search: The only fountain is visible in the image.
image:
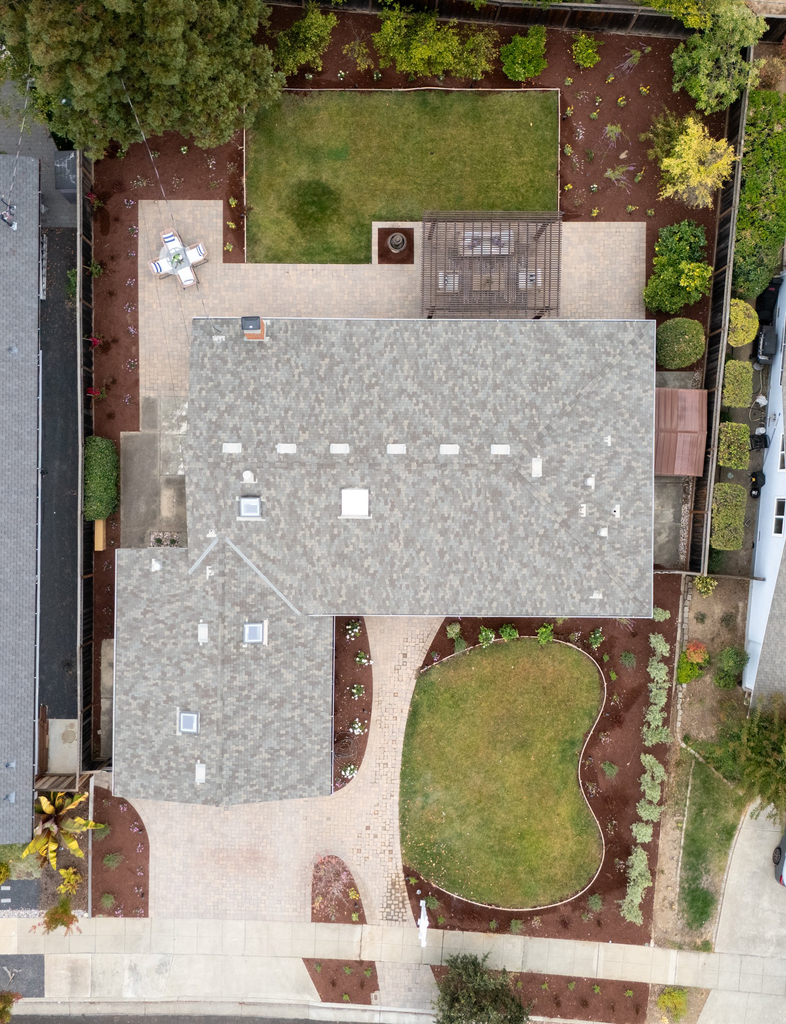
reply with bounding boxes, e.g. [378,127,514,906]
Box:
[386,236,405,256]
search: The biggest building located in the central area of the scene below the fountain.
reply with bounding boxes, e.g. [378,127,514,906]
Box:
[112,317,657,808]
